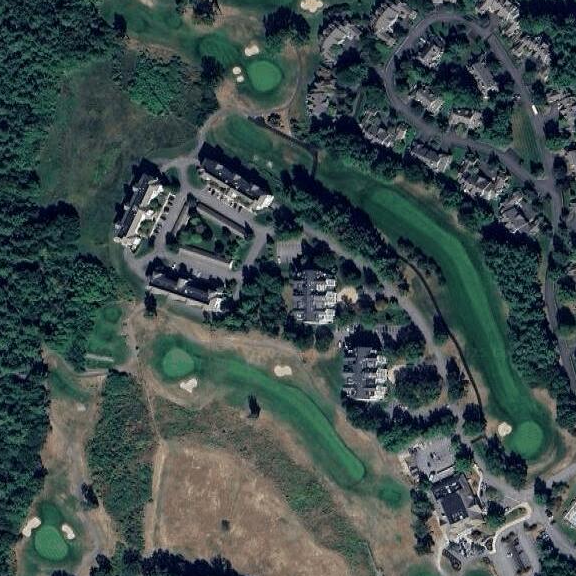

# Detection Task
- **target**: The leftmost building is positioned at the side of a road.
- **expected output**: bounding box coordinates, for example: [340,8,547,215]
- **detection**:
[116,177,164,254]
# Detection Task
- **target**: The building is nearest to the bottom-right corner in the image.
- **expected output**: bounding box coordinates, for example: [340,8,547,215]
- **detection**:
[430,467,486,530]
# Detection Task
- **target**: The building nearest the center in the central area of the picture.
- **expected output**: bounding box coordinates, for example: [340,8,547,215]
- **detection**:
[293,271,337,325]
